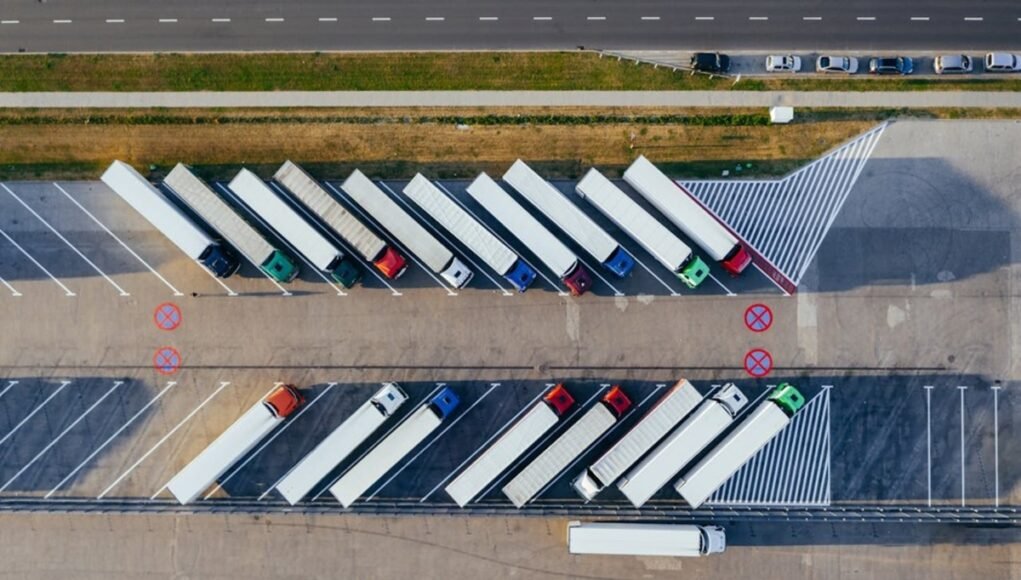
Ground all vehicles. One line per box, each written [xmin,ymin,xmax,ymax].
[868,54,913,75]
[341,169,475,291]
[446,383,576,507]
[673,381,807,508]
[329,383,463,507]
[817,54,858,73]
[571,378,701,502]
[575,167,711,289]
[504,384,633,507]
[617,382,748,506]
[273,160,411,282]
[100,159,244,281]
[504,159,636,279]
[767,52,802,72]
[165,163,305,286]
[622,155,755,276]
[404,173,537,293]
[228,168,364,292]
[933,53,973,74]
[277,380,412,505]
[167,381,308,505]
[467,171,595,297]
[984,51,1021,72]
[690,50,728,72]
[567,519,727,556]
